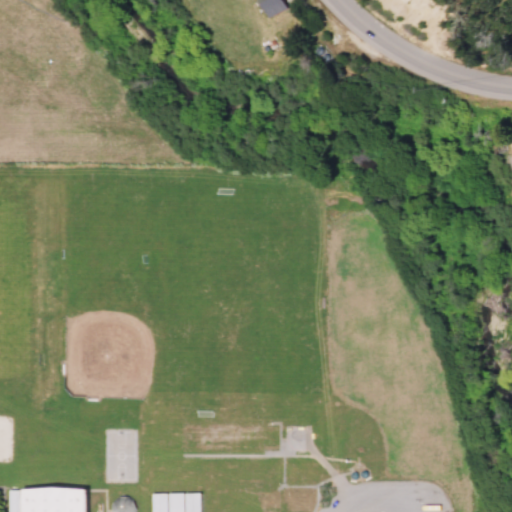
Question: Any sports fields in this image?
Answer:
Yes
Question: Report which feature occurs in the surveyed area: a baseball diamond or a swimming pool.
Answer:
baseball diamond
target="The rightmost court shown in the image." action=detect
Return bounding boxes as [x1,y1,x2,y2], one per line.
[106,429,138,482]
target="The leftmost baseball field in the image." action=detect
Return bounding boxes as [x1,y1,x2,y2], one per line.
[65,310,156,400]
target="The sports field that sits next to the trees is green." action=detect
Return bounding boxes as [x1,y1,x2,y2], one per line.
[65,178,328,401]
